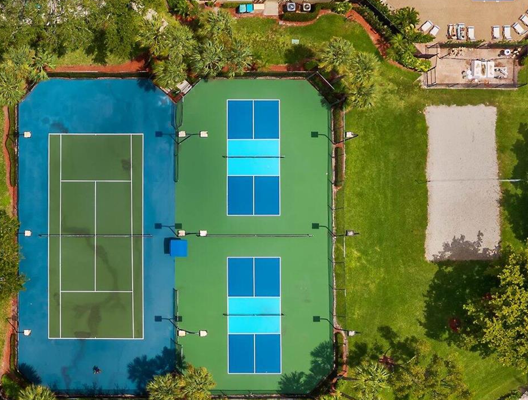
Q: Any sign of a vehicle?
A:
No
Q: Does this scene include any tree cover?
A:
Yes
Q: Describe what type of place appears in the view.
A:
sports ground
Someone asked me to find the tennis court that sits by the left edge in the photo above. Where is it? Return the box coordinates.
[17,79,176,397]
